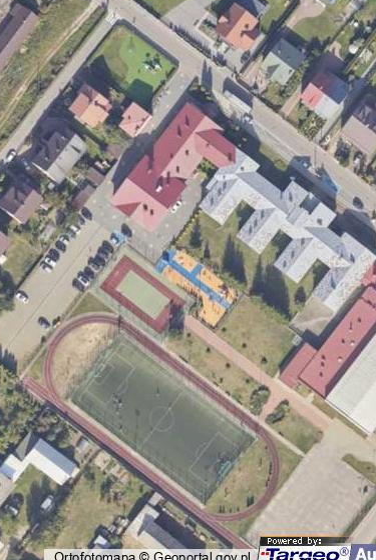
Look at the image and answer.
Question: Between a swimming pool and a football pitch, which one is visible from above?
football pitch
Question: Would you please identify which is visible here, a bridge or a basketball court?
basketball court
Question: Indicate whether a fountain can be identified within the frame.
No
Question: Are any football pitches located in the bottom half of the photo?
Yes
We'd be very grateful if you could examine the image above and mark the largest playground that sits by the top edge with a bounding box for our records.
[119,27,178,96]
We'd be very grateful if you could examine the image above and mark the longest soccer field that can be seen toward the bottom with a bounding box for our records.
[70,326,259,506]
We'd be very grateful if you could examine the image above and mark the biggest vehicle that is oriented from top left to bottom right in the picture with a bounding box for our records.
[225,90,258,116]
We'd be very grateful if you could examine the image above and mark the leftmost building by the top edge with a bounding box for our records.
[0,4,40,72]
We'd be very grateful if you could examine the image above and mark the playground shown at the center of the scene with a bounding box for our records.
[155,248,237,326]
